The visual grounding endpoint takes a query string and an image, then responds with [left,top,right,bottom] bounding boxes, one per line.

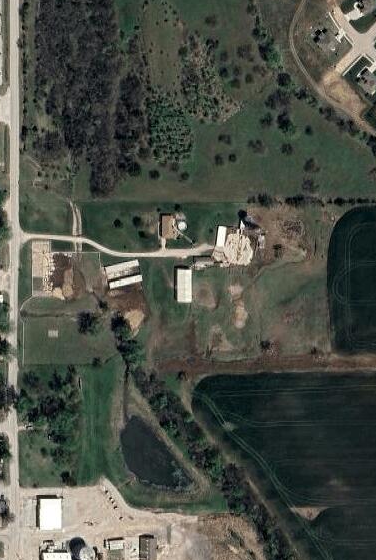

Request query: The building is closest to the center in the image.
[178,270,193,302]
